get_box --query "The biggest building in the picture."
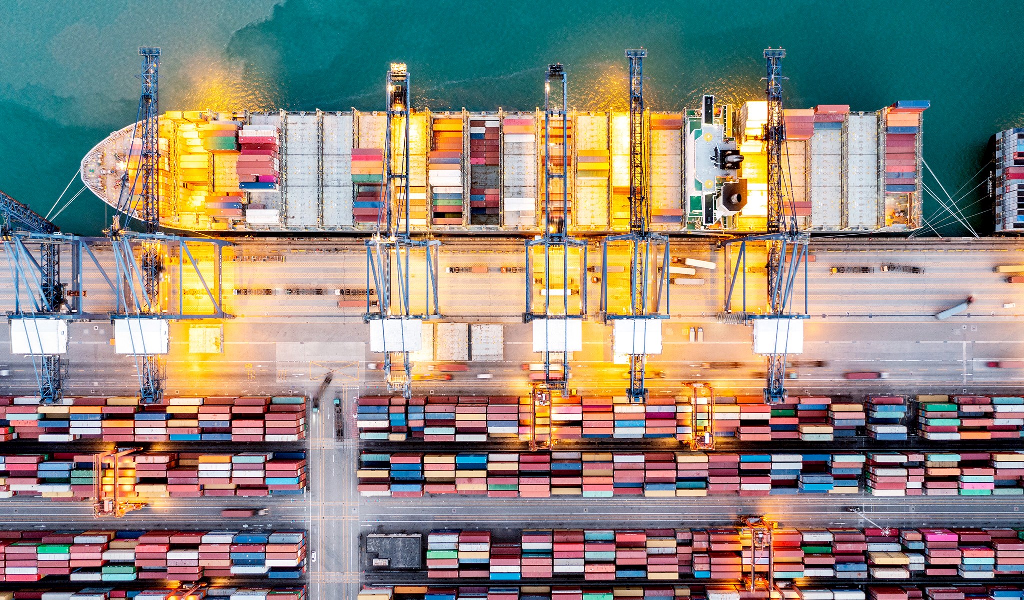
[366,534,423,569]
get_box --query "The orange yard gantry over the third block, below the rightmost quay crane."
[732,509,774,593]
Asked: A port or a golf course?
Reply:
port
